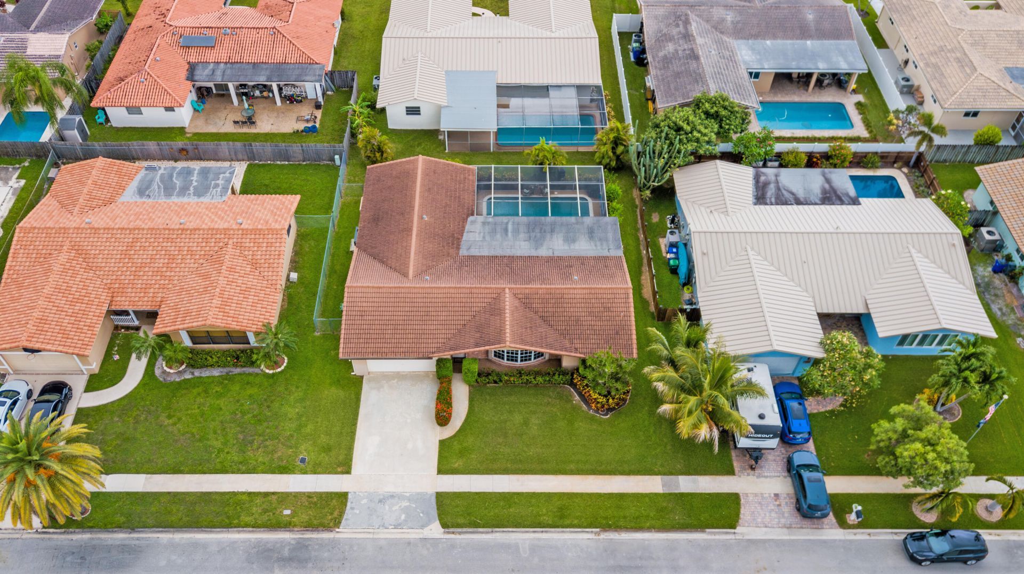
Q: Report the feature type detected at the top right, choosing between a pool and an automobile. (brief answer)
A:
pool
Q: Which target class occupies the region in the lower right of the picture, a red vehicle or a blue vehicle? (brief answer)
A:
blue vehicle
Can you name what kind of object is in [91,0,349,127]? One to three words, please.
house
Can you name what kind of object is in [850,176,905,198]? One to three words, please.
swimming pool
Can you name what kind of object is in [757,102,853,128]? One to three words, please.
swimming pool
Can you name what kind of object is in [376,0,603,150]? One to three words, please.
house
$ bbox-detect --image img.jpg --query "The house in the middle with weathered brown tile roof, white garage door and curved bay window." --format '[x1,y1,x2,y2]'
[337,154,639,377]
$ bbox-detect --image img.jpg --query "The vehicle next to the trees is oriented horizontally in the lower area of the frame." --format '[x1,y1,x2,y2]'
[897,521,991,564]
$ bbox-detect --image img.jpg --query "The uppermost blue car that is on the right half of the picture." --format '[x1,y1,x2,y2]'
[775,381,815,446]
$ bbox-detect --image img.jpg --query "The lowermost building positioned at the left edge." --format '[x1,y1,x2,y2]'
[0,155,305,375]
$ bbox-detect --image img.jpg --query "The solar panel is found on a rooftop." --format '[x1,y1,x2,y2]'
[179,34,215,46]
